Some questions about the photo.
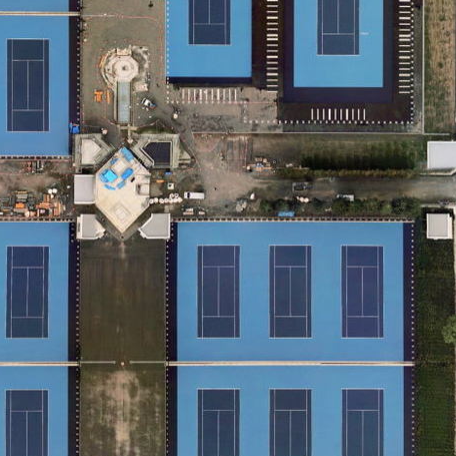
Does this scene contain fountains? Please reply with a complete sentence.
Yes, the picture does show a fountain.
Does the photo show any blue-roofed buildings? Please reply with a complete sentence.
No, no blue-roofed building is visible in the view.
